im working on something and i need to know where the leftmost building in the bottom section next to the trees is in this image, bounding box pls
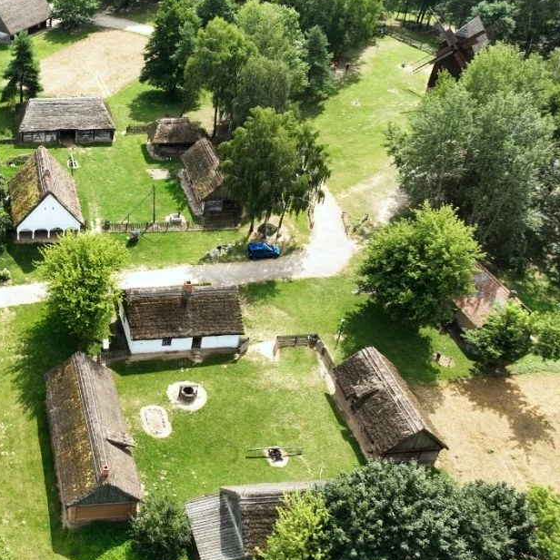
[42,348,142,530]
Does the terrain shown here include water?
No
